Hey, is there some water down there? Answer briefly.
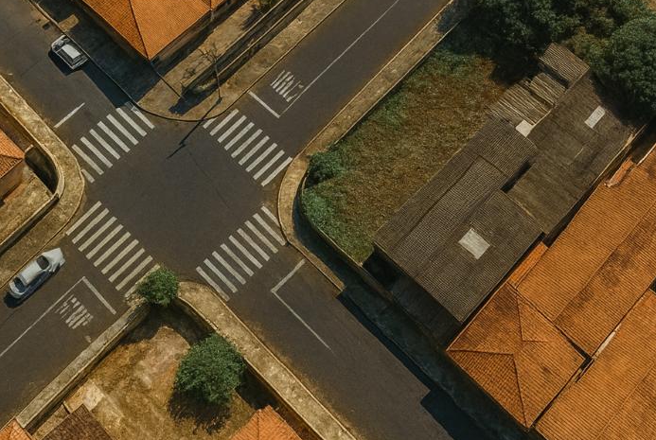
No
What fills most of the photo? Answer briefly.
paved ground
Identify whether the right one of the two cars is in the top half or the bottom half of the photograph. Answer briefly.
top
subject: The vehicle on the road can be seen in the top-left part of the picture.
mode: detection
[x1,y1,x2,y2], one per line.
[48,35,88,74]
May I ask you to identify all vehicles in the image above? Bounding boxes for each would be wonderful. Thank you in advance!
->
[1,248,64,304]
[48,35,88,74]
